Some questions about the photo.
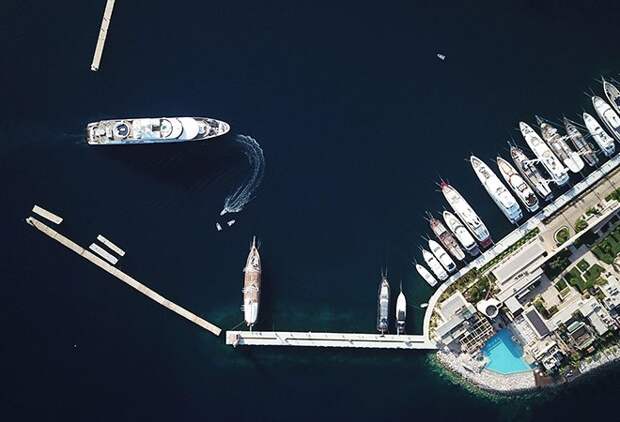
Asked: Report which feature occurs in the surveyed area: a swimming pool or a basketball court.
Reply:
swimming pool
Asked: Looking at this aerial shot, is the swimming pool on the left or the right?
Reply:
right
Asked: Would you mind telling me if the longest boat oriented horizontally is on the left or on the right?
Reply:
left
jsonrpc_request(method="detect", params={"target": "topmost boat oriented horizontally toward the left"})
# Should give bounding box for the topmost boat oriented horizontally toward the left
[85,117,230,143]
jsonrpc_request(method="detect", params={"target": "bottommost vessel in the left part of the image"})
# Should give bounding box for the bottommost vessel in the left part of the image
[227,232,261,337]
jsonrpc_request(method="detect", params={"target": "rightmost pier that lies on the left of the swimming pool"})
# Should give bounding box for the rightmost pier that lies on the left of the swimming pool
[226,331,438,351]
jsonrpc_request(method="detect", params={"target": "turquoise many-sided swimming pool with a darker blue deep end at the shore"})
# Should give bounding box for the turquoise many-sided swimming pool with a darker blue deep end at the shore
[478,324,535,376]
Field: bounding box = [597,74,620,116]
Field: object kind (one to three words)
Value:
boat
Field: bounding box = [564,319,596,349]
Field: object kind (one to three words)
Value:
house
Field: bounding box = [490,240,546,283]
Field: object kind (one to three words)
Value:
building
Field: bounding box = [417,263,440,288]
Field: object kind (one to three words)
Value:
boat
